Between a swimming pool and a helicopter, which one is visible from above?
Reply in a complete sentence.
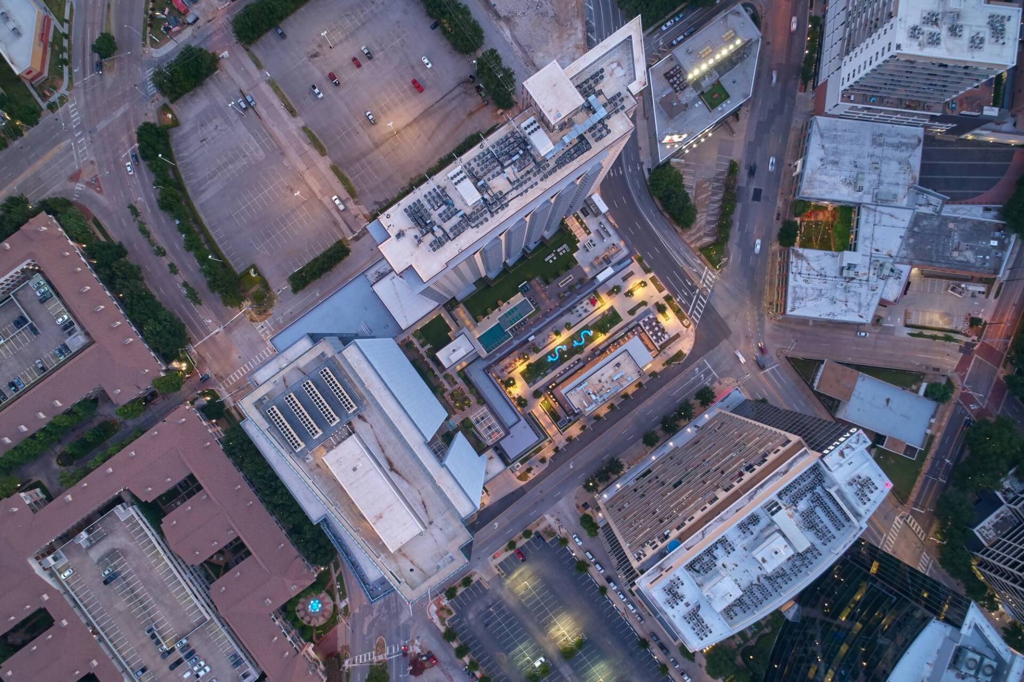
This aerial view contains a swimming pool.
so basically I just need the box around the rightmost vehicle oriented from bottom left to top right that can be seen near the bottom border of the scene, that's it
[532,656,547,670]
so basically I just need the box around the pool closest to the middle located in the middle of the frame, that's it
[477,297,536,355]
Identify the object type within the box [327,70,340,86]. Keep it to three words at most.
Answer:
vehicle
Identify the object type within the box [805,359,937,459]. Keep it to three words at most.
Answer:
building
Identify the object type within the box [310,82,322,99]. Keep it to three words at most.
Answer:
vehicle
